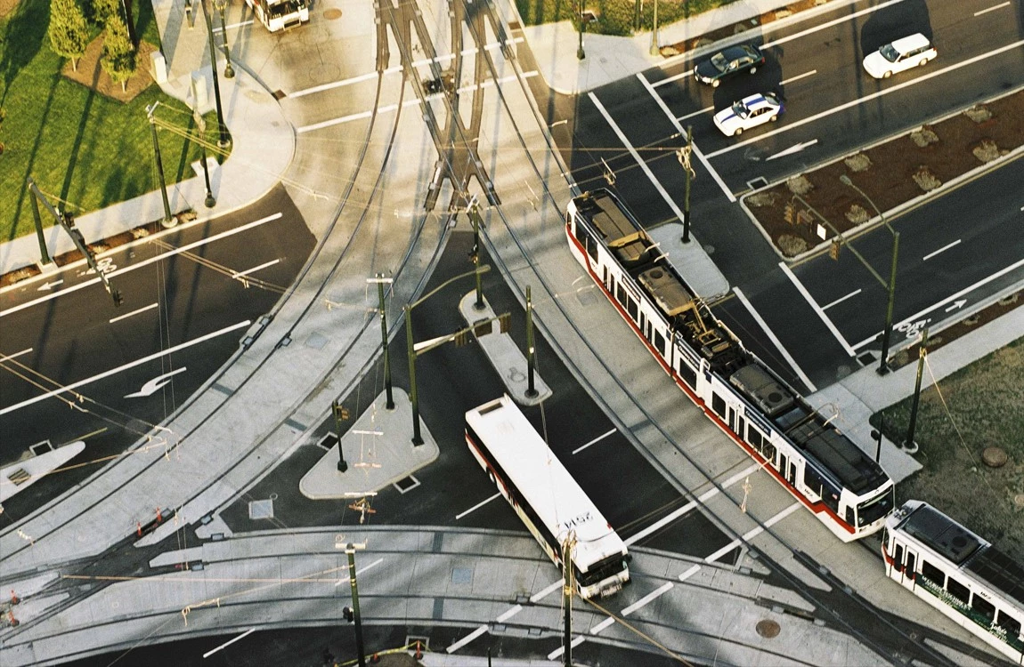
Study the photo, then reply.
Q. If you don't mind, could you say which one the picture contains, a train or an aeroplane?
train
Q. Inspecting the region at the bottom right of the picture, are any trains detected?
Yes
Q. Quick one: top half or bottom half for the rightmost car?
top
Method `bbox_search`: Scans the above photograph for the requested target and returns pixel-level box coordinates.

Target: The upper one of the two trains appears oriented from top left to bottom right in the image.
[565,196,900,544]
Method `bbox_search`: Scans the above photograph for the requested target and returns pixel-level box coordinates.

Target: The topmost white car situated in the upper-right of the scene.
[863,28,938,75]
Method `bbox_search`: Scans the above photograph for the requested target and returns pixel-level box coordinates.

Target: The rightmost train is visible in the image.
[879,502,1024,659]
